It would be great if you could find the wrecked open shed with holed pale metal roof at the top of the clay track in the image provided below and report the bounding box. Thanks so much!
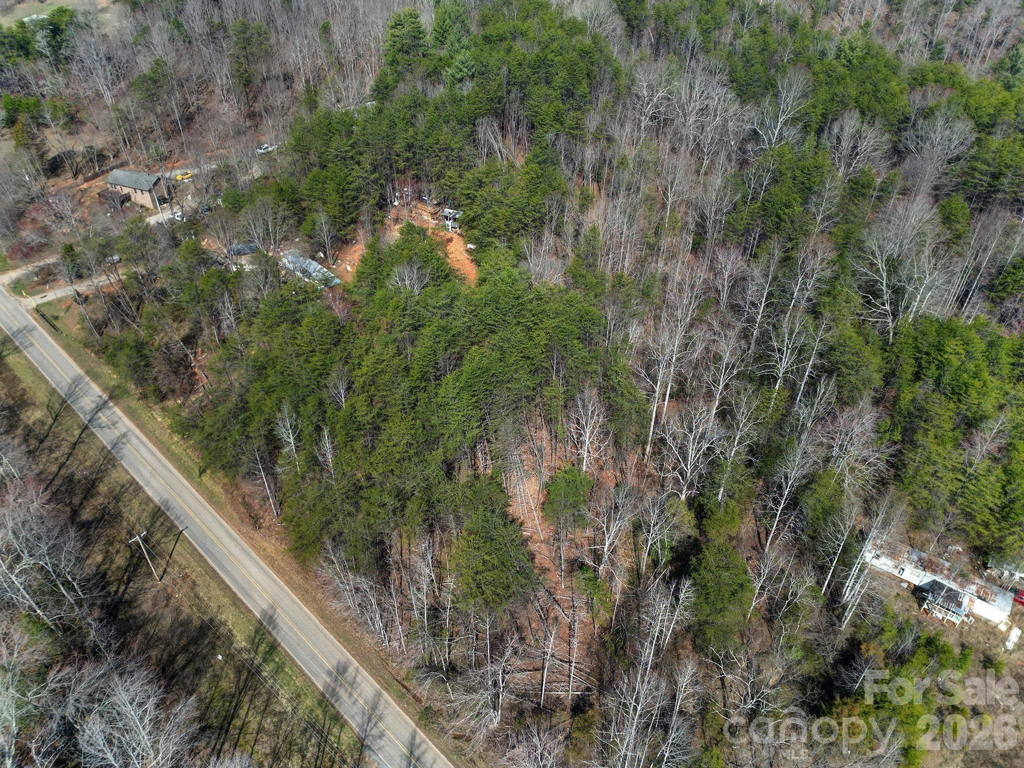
[442,211,470,231]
